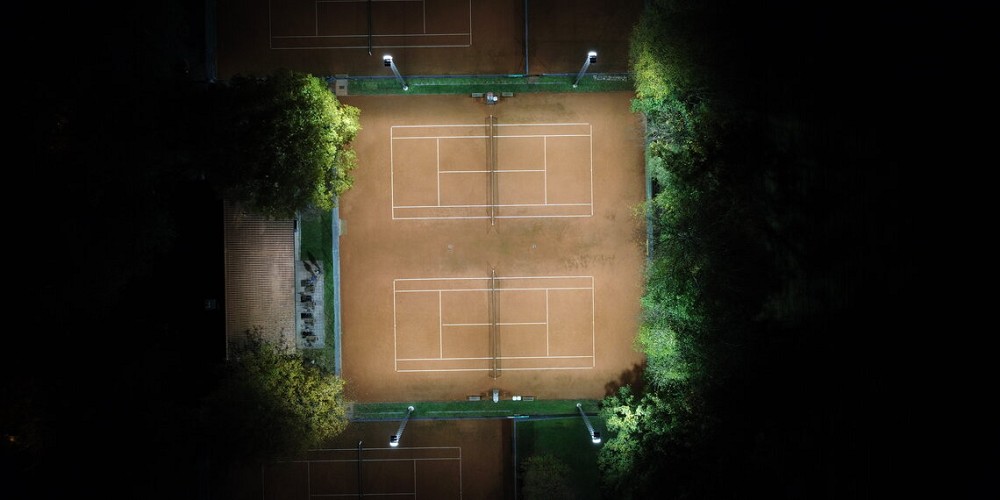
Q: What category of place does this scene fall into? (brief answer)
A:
sports ground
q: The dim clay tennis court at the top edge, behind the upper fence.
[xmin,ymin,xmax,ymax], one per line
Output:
[222,0,524,78]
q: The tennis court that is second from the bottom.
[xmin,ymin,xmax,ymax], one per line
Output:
[342,245,647,404]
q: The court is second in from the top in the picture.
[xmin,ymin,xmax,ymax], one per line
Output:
[339,91,646,249]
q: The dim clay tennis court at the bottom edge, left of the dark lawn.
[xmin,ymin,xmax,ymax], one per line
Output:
[234,420,515,500]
